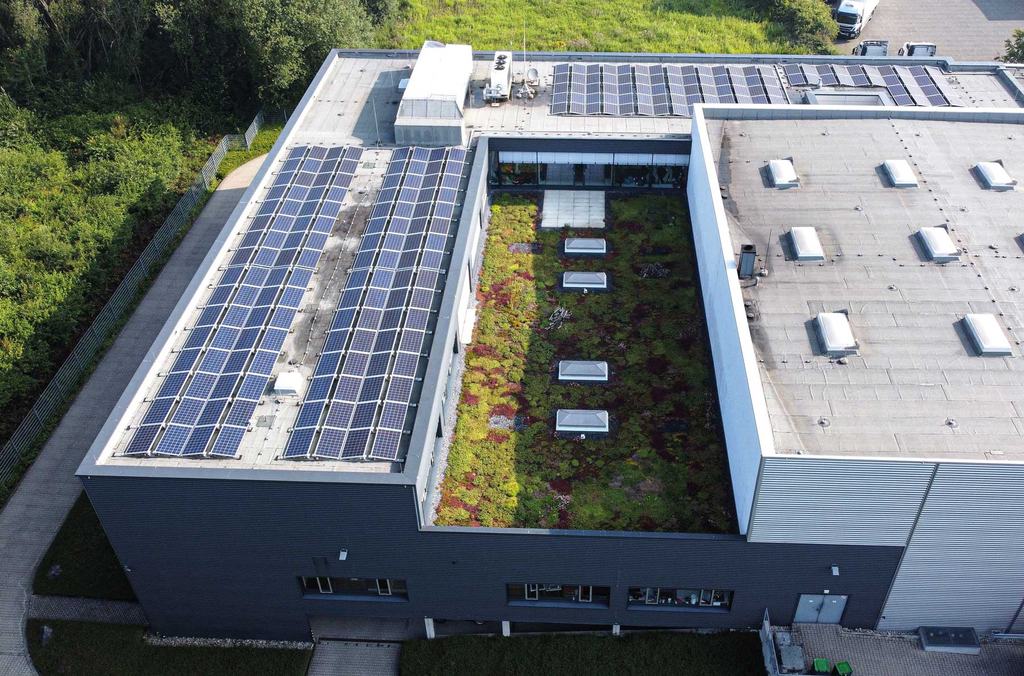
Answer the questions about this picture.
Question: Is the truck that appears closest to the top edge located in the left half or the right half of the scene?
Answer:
right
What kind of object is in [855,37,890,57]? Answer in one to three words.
vehicle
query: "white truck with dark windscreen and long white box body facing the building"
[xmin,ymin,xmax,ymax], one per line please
[837,0,882,35]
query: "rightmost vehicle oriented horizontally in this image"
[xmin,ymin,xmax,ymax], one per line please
[900,41,936,57]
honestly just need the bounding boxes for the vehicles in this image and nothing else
[855,37,890,57]
[900,41,936,57]
[837,0,882,35]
